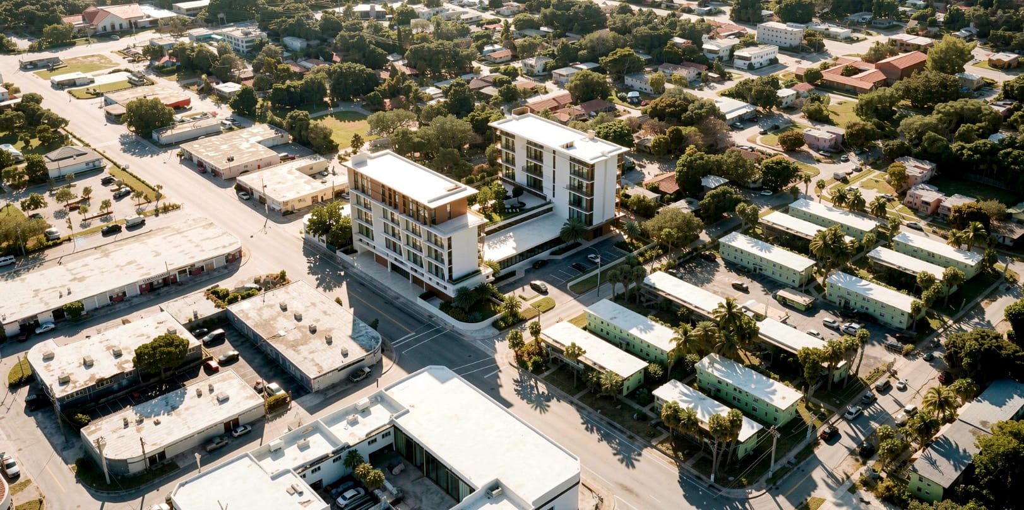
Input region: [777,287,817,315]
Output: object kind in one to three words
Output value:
building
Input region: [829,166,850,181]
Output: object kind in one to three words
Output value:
vehicle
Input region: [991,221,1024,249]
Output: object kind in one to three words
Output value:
house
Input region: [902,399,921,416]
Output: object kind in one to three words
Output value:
car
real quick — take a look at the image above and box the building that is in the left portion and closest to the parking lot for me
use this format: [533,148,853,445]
[40,150,104,180]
